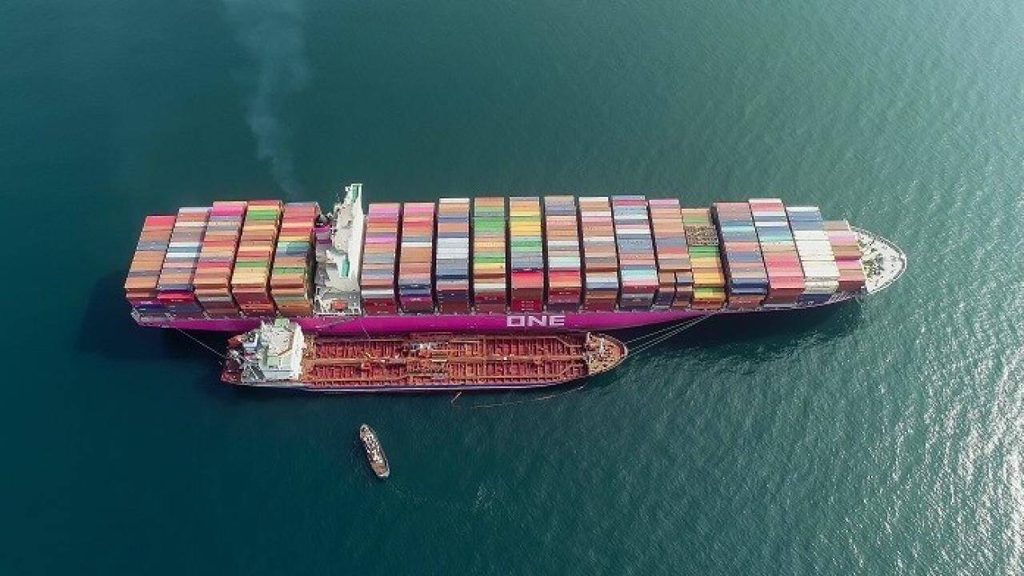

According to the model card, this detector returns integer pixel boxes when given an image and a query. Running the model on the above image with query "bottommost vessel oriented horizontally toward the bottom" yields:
[220,322,630,398]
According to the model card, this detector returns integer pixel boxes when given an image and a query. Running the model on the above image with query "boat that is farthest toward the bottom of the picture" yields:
[357,421,393,478]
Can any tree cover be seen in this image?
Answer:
No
